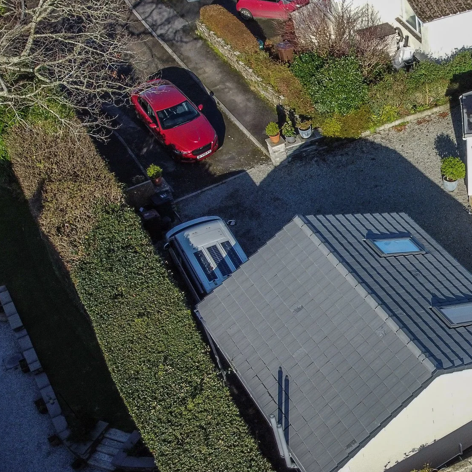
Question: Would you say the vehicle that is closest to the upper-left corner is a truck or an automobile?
automobile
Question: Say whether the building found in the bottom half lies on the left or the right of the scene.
right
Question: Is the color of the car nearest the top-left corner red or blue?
red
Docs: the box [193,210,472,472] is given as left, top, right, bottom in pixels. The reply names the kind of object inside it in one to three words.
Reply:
building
